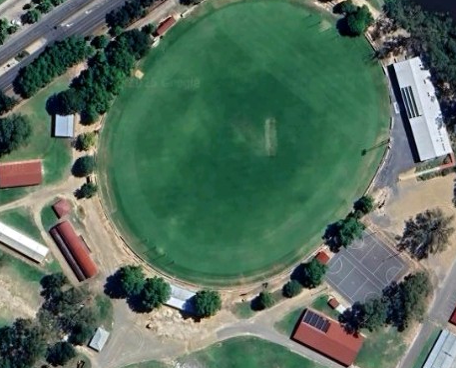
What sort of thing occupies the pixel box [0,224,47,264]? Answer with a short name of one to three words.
shed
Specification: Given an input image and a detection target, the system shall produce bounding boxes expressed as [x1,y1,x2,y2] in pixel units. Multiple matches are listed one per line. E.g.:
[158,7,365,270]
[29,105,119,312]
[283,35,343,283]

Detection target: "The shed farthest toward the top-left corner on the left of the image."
[54,113,73,137]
